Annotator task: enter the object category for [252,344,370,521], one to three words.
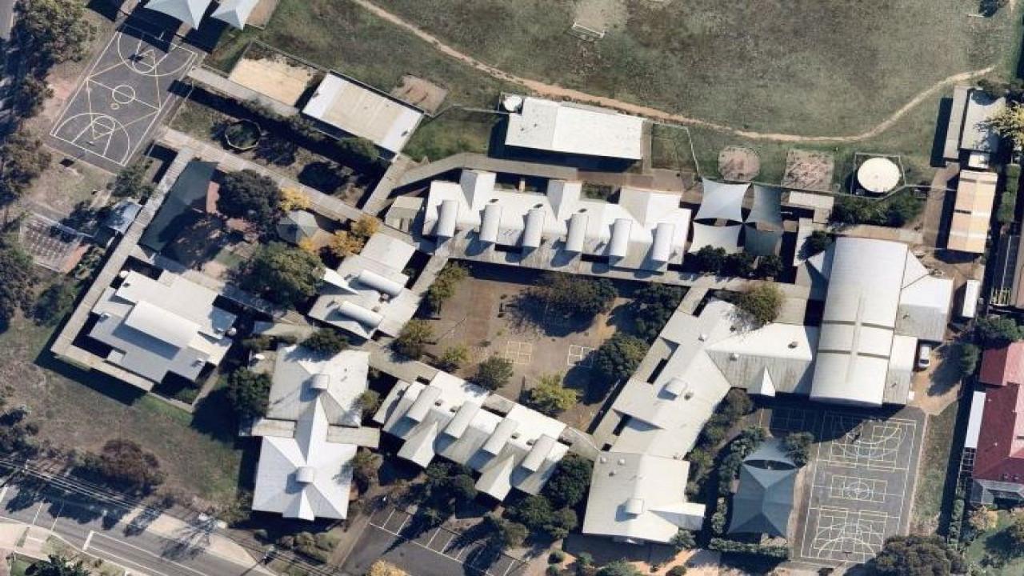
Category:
building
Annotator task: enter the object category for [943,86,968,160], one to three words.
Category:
shed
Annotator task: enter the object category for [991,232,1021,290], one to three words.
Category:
house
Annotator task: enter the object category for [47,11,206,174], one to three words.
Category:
sports court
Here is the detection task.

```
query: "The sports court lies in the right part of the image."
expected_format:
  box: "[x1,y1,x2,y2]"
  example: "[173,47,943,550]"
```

[748,396,927,565]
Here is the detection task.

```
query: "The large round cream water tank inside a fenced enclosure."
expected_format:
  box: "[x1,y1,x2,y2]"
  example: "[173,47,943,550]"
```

[856,153,899,196]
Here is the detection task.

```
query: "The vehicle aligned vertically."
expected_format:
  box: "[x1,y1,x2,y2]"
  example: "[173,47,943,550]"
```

[918,343,931,370]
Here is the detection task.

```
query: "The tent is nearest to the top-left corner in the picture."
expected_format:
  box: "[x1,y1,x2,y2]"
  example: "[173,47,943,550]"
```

[142,0,209,32]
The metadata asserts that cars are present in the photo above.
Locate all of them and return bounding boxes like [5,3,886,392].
[199,511,227,532]
[918,343,931,370]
